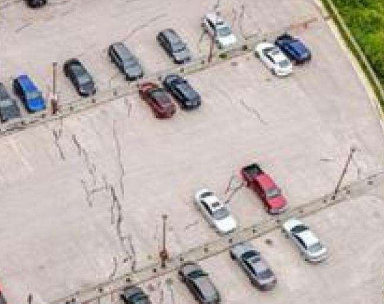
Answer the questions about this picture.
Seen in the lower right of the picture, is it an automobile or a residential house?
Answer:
automobile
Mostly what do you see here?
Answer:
paved ground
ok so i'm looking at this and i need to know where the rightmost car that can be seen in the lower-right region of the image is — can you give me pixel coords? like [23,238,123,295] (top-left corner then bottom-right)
[284,218,326,268]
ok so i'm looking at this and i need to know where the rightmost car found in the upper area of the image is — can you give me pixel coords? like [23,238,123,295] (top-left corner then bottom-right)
[275,27,314,70]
